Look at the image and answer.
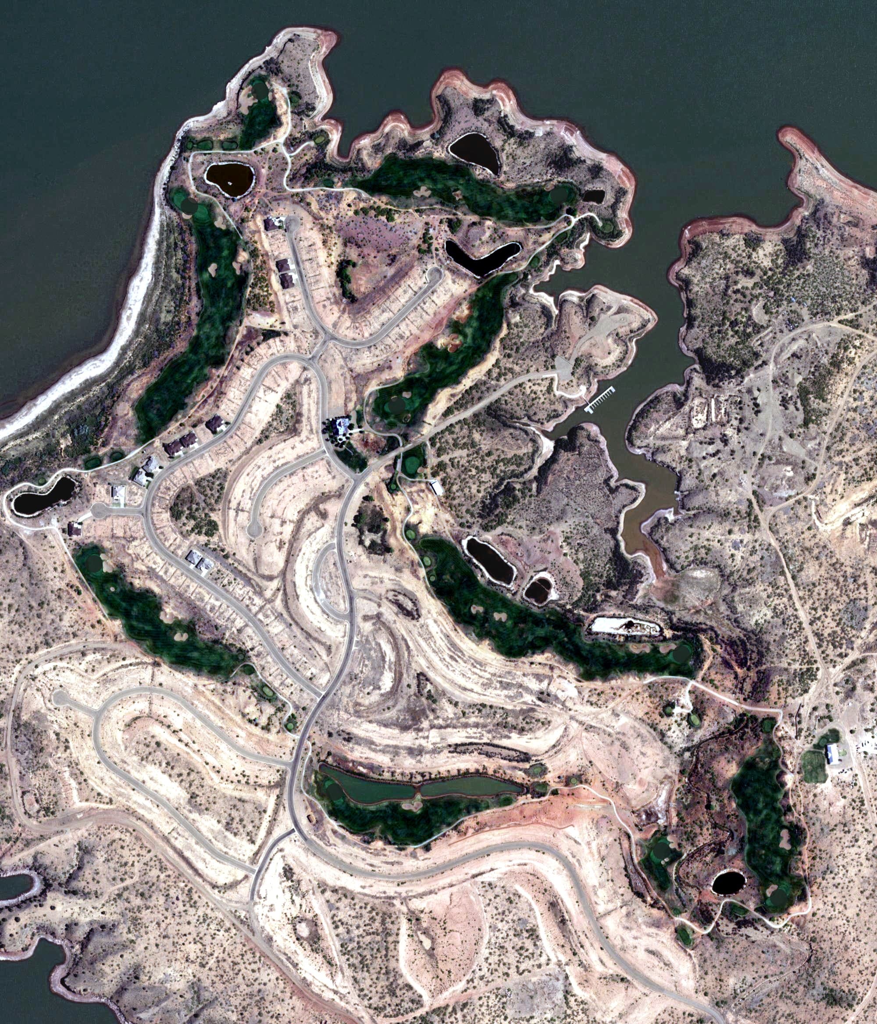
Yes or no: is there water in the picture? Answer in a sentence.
Yes, there is water in the image.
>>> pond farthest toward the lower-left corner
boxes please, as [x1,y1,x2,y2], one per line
[319,764,416,805]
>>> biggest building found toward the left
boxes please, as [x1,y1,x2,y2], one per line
[332,417,350,439]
